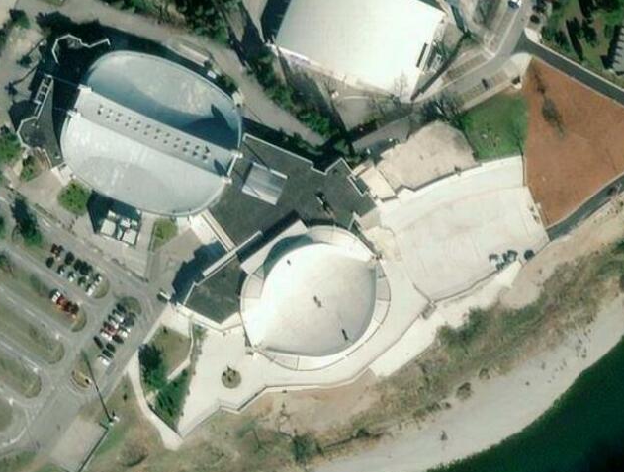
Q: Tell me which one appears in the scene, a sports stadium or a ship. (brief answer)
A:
sports stadium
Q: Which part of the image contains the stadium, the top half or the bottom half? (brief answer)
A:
top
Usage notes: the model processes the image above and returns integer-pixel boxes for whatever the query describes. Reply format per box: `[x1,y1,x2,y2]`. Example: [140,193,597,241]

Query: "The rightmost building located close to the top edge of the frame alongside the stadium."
[275,0,447,101]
